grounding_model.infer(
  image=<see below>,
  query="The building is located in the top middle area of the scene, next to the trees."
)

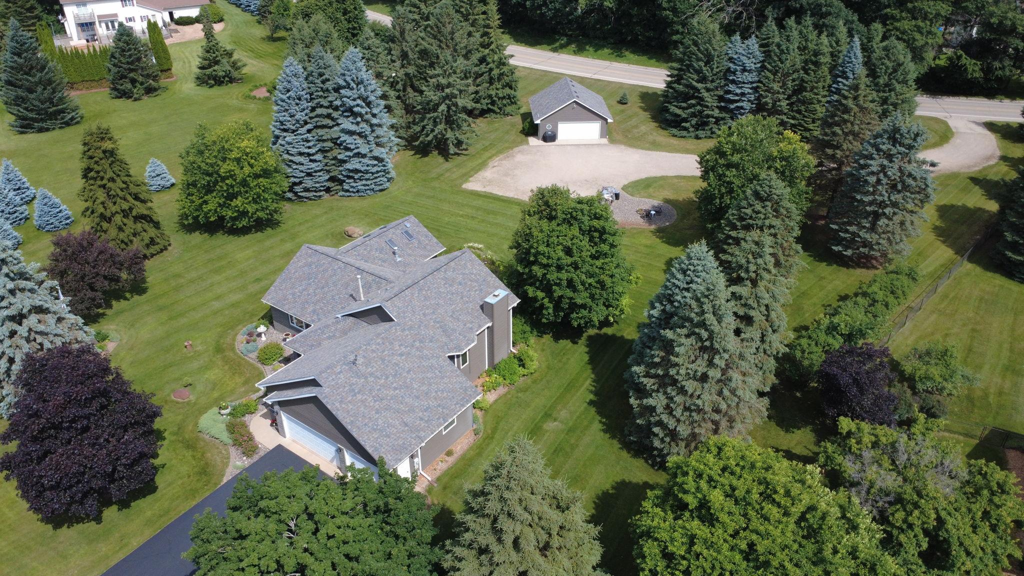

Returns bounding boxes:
[529,77,615,141]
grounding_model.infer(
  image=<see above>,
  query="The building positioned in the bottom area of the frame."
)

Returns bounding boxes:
[255,215,522,496]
